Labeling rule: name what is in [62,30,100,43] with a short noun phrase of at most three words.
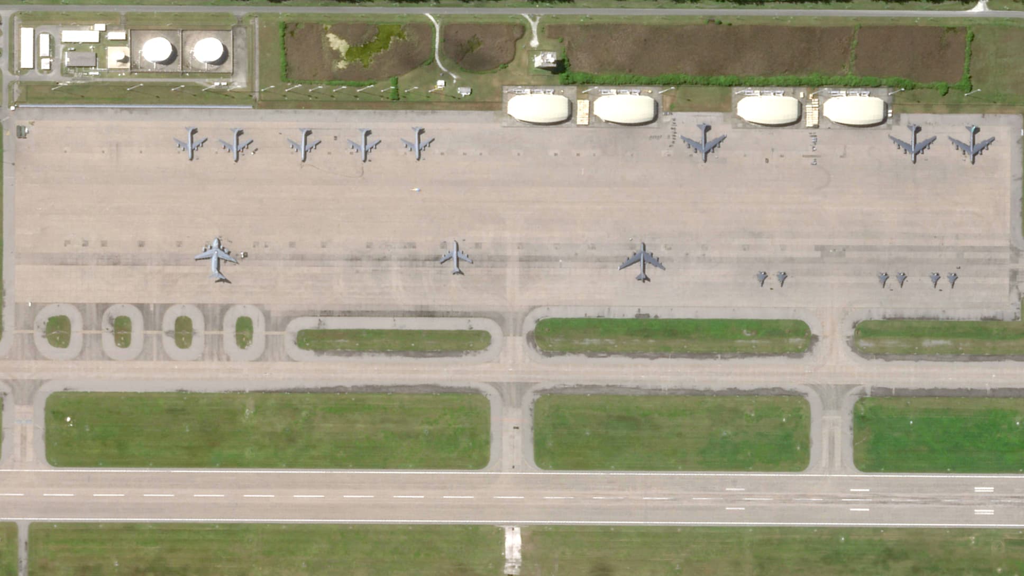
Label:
building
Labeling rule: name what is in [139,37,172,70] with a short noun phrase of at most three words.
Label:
storage tank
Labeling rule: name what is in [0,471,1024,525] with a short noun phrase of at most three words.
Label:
runway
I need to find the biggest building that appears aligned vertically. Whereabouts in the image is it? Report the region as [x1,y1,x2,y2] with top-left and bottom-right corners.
[21,27,34,68]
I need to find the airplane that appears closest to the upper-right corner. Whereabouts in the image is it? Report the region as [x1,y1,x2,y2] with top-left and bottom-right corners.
[950,126,996,165]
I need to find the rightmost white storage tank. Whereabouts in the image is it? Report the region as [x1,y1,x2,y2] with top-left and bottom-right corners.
[191,37,224,70]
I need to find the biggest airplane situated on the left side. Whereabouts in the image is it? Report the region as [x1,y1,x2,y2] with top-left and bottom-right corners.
[194,236,237,278]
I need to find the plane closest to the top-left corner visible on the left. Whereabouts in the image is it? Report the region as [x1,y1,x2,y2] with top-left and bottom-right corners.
[174,127,208,161]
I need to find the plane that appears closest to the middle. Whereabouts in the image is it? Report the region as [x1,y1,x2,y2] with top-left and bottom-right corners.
[438,239,472,271]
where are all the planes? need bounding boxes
[194,236,237,278]
[682,124,728,163]
[879,272,889,287]
[219,129,253,163]
[619,241,665,280]
[174,127,208,161]
[950,126,996,165]
[287,129,321,162]
[438,239,472,271]
[756,271,767,286]
[891,125,937,164]
[401,127,435,160]
[347,129,381,162]
[896,272,907,288]
[930,272,940,287]
[777,271,787,286]
[947,272,958,288]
